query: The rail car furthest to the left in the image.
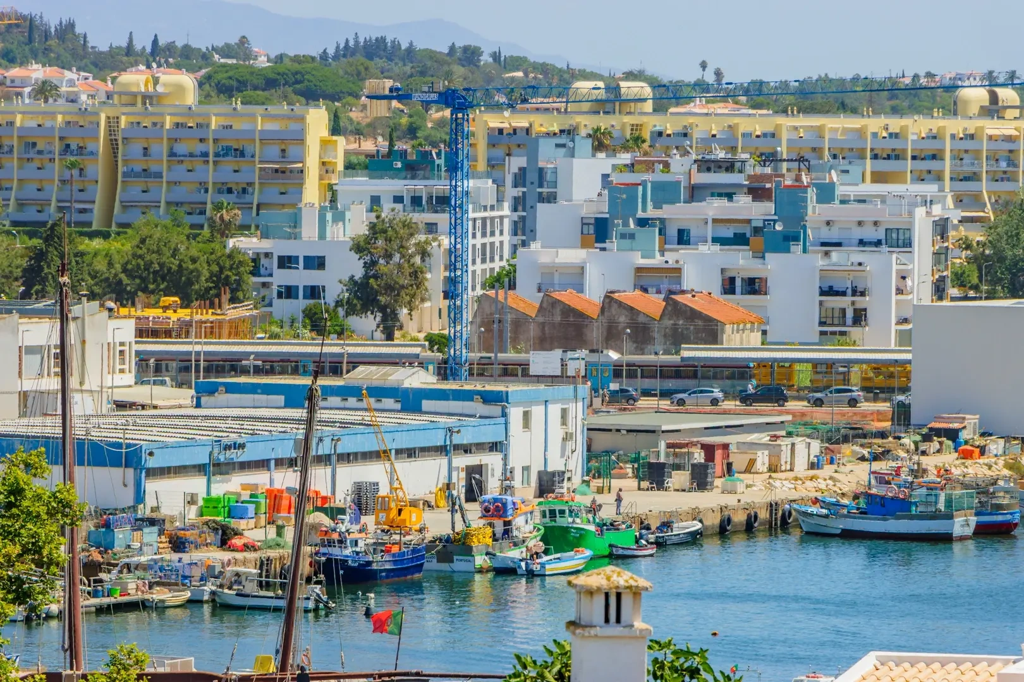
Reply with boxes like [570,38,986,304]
[134,345,297,385]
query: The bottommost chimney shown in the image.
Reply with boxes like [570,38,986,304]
[566,566,654,682]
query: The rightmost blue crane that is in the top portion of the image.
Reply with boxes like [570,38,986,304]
[363,71,1024,382]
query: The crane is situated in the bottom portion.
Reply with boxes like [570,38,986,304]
[360,387,434,534]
